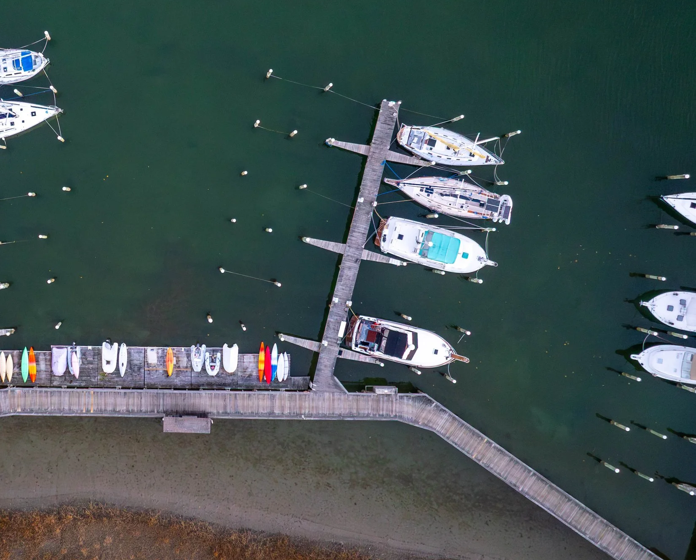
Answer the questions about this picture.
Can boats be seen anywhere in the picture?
Yes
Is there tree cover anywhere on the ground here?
No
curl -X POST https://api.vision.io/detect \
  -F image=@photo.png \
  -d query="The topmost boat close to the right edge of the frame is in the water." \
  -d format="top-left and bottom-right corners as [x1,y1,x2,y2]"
[657,191,696,228]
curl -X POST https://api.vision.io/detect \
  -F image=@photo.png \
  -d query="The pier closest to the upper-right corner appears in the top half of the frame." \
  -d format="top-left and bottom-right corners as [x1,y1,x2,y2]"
[387,150,429,166]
